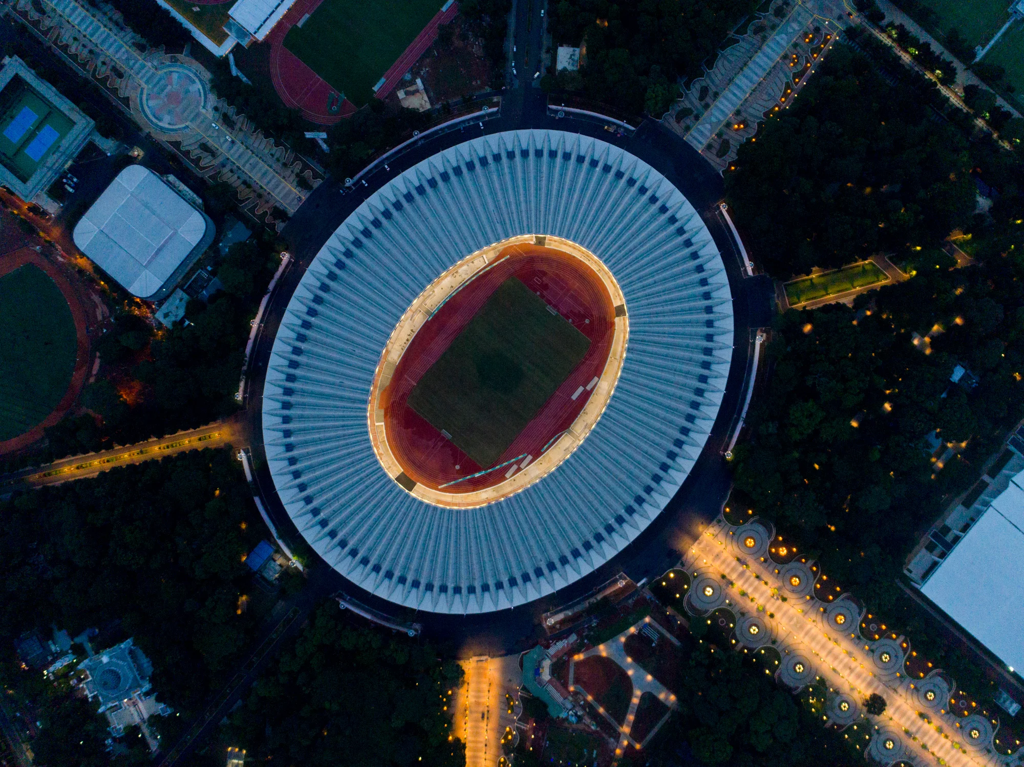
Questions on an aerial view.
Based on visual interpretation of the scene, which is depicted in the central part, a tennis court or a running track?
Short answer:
running track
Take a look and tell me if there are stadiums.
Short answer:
Yes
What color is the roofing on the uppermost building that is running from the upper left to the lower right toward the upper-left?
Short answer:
blue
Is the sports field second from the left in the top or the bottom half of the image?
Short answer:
top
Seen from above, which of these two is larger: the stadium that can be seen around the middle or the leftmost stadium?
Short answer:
the stadium that can be seen around the middle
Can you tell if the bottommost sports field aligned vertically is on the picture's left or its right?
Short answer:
left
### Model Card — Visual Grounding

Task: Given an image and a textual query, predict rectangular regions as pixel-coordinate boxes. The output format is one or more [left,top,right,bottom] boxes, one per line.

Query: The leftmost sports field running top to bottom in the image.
[0,248,91,453]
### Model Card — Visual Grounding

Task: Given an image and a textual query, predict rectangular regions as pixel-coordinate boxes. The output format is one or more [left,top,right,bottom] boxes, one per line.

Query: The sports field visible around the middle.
[407,276,591,469]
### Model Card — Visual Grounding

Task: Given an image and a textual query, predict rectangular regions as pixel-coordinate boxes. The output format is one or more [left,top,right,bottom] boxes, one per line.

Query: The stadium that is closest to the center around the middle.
[258,126,738,617]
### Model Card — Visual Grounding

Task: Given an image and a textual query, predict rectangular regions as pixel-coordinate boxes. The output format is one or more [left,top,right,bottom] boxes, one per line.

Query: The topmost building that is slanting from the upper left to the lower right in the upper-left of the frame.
[222,17,259,52]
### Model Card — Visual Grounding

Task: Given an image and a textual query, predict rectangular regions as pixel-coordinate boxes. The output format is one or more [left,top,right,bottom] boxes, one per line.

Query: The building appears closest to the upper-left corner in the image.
[0,55,103,206]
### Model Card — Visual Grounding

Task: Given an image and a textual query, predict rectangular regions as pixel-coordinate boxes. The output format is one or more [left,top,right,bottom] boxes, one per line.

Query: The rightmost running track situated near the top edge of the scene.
[265,0,474,125]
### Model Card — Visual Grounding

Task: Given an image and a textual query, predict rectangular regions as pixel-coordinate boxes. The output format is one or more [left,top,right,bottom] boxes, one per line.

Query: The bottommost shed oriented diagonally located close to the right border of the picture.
[991,687,1021,717]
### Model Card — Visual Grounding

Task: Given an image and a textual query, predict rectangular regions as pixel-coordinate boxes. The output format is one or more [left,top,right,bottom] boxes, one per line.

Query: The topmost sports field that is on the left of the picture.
[283,0,446,103]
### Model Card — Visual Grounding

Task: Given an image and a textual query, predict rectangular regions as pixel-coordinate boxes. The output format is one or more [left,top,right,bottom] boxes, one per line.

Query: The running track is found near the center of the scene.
[381,247,617,498]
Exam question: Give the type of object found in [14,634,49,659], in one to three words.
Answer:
house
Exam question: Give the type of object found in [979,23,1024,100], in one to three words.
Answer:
sports field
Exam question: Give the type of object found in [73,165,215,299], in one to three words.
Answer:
stadium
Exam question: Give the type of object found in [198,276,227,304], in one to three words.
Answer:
building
